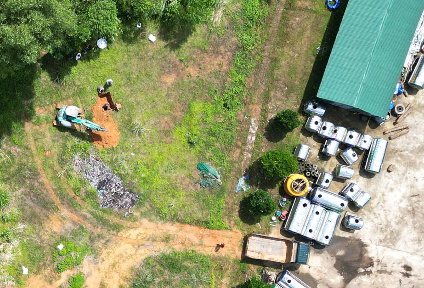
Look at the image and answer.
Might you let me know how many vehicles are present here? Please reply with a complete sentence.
Altogether the scene contains 2 vehicles.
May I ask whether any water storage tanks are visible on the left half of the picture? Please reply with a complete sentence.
No, looking on the left half of the picture, there is no water storage tank.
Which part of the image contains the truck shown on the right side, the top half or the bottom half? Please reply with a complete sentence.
Seen from above, the truck shown on the right side lies in the bottom half of the view.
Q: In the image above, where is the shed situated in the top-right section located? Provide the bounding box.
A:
[311,0,424,119]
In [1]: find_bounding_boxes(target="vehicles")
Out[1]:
[49,101,113,145]
[241,232,308,269]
